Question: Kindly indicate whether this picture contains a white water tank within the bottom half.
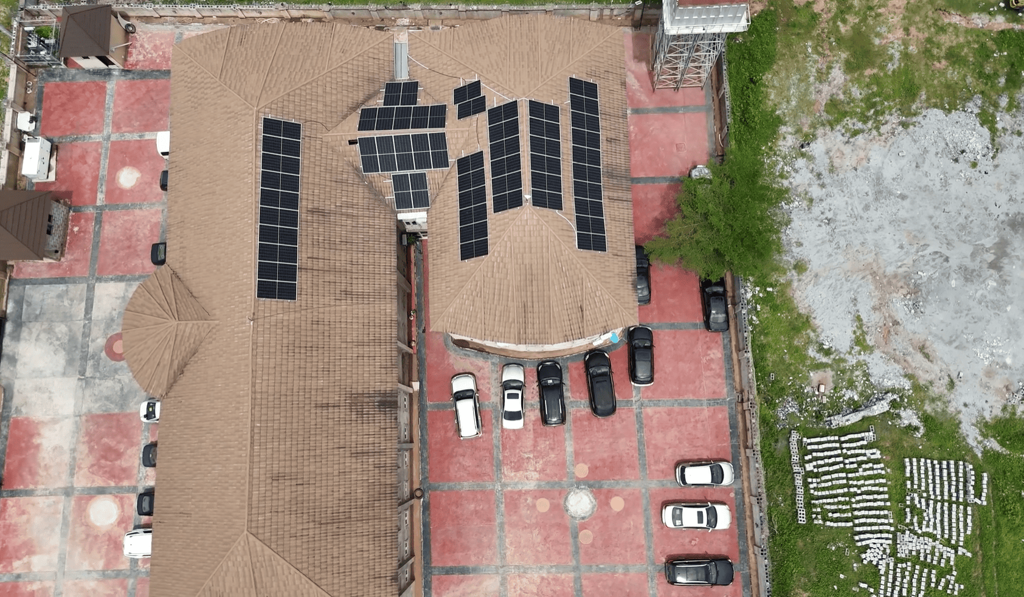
No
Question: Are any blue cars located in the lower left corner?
No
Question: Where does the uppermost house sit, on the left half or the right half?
left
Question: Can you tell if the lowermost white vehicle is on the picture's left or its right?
left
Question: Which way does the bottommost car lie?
horizontally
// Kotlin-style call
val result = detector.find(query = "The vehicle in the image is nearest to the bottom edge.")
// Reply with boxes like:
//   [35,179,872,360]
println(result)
[664,557,735,592]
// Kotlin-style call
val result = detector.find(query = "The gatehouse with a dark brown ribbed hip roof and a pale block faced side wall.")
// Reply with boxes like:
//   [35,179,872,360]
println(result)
[0,192,73,264]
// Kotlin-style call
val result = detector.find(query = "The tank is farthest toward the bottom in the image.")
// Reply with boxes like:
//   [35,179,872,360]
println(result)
[18,111,43,137]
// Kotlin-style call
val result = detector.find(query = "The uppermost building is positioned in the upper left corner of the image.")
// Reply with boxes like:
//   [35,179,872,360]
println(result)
[59,5,132,74]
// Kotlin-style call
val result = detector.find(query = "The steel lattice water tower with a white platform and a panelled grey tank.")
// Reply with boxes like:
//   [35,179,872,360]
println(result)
[652,0,751,92]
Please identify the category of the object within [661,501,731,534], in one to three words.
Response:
car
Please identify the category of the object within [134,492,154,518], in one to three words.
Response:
car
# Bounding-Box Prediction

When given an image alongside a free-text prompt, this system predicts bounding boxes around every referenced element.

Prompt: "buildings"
[59,5,132,74]
[0,192,73,264]
[121,21,419,597]
[406,12,640,352]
